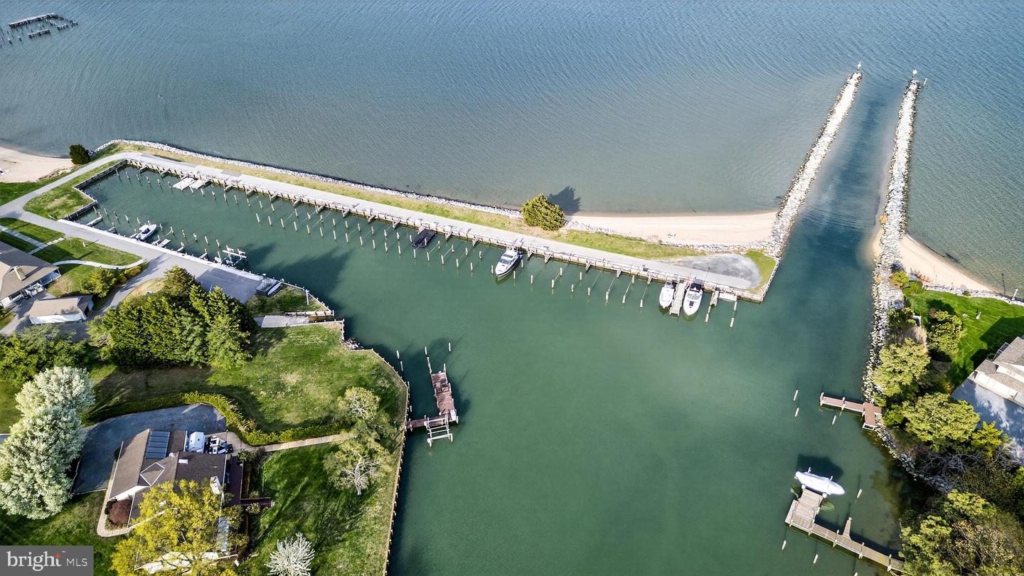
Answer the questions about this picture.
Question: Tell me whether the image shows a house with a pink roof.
No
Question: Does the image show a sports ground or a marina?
marina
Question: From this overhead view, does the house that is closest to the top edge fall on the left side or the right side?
left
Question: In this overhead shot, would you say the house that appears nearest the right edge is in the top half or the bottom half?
bottom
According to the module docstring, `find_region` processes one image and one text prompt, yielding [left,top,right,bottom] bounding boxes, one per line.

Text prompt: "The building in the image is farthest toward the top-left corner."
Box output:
[0,251,60,305]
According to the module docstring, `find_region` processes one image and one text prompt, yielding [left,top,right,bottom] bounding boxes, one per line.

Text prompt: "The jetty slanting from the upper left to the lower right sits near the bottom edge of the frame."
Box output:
[785,484,902,575]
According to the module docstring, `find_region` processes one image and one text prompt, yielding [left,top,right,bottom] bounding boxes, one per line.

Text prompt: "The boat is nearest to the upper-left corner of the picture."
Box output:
[135,224,157,242]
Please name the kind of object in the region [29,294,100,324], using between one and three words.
building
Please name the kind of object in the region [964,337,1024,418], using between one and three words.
house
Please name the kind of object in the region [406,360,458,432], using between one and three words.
pier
